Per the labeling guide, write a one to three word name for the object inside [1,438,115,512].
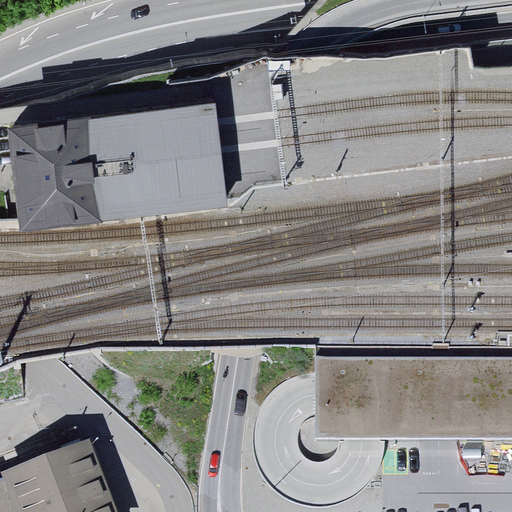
building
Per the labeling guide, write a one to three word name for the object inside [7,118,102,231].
building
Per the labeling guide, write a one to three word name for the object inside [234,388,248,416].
vehicle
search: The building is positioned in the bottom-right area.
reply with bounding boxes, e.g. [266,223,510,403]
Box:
[316,356,512,442]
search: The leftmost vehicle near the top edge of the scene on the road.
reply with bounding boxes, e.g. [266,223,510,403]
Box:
[130,5,152,20]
